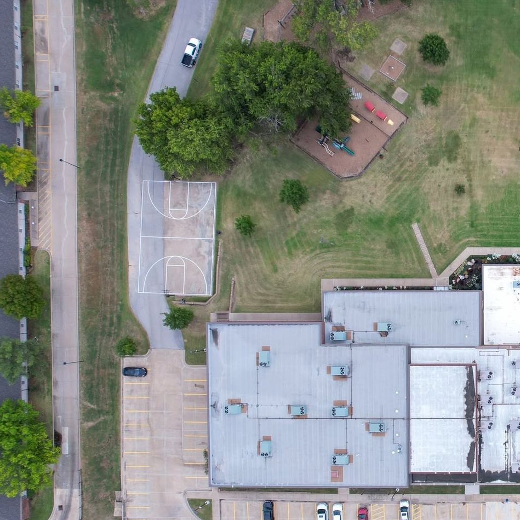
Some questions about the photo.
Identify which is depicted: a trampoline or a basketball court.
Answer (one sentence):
I can see a basketball court in this picture.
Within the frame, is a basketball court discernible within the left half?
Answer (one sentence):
Yes, a basketball court shows up within the left half.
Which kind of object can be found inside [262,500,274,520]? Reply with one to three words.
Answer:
vehicle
